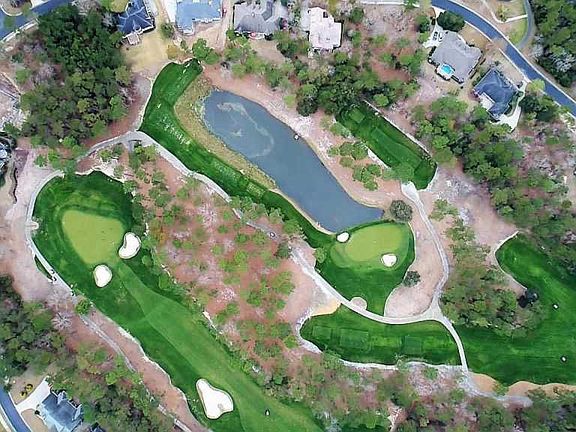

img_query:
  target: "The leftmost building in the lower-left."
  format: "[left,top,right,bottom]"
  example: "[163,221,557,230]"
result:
[35,393,84,432]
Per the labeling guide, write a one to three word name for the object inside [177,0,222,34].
house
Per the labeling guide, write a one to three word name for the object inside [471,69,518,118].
house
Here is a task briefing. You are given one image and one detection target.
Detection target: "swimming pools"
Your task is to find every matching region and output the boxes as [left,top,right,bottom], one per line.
[436,63,453,79]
